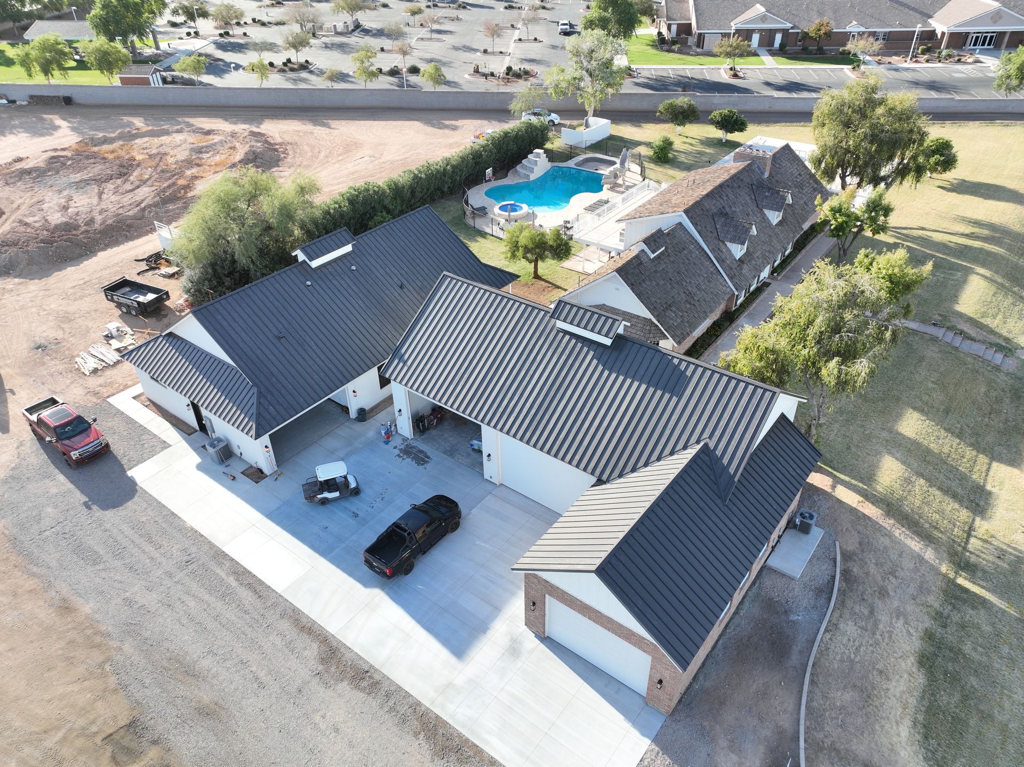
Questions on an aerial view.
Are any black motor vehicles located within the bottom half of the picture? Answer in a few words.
Yes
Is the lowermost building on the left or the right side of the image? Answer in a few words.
right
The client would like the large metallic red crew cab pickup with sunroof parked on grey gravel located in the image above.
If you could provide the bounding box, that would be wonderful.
[22,396,113,470]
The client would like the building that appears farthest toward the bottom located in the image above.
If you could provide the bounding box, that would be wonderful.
[511,413,824,714]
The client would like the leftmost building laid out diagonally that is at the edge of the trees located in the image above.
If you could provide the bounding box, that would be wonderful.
[124,207,520,475]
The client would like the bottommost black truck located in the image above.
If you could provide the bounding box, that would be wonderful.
[362,488,470,582]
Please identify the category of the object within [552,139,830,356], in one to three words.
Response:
house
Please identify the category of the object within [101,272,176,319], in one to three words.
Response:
trailer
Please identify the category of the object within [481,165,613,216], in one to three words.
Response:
swimming pool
